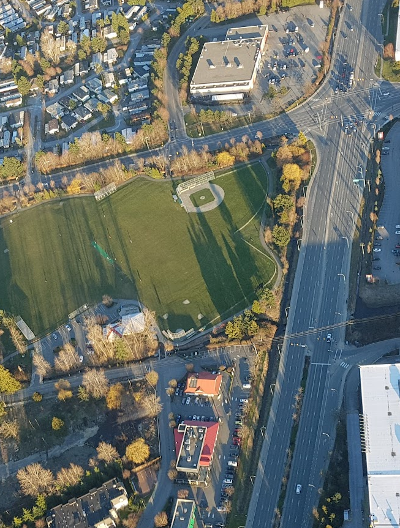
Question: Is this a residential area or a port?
residential area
